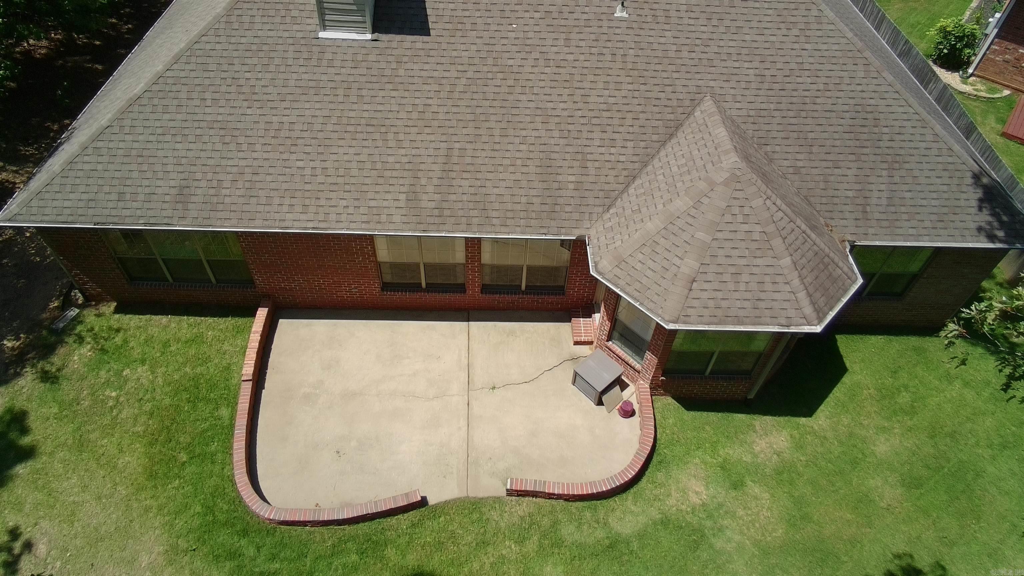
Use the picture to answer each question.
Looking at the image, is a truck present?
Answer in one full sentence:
No, there appears to be no truck in this shot.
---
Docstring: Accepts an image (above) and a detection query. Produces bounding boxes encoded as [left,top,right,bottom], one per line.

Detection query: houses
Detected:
[0,0,1024,399]
[970,0,1024,93]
